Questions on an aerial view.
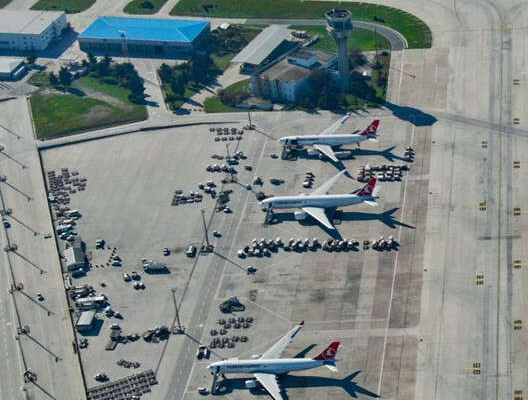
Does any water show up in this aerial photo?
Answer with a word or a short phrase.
No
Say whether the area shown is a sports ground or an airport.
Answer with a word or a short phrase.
airport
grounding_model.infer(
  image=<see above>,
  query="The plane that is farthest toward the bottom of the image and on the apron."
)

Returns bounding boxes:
[208,318,338,400]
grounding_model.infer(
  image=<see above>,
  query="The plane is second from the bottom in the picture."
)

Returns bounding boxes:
[257,169,375,226]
